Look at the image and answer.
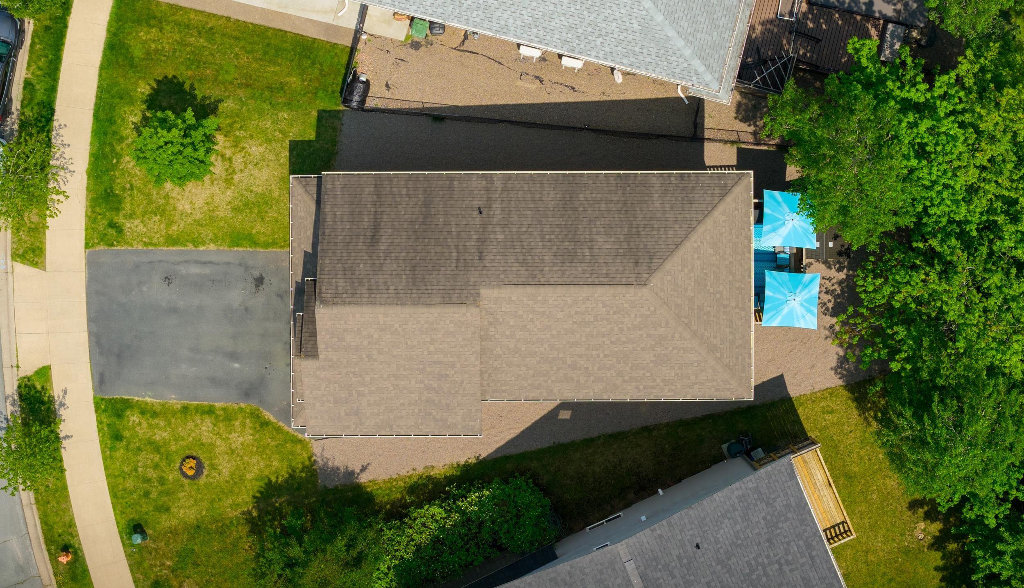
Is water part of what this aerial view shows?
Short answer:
No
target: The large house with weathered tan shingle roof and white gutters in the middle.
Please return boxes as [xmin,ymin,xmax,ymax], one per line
[290,171,754,437]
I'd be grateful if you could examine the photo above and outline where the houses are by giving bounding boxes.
[335,0,756,105]
[455,452,853,588]
[290,171,754,437]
